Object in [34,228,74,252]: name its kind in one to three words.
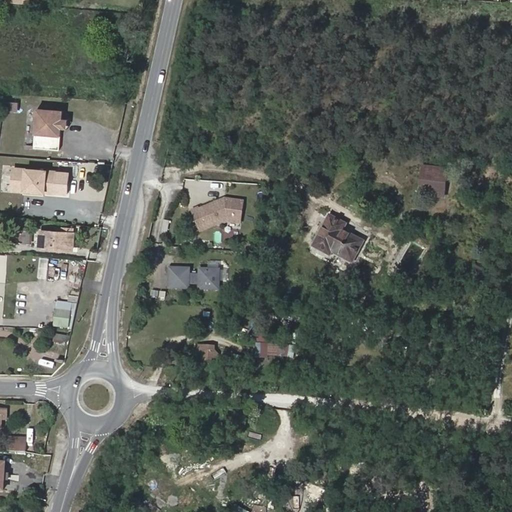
house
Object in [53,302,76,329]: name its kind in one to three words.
shed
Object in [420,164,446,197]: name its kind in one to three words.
shed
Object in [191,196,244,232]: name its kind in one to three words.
house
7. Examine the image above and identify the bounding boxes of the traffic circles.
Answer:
[47,354,153,438]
